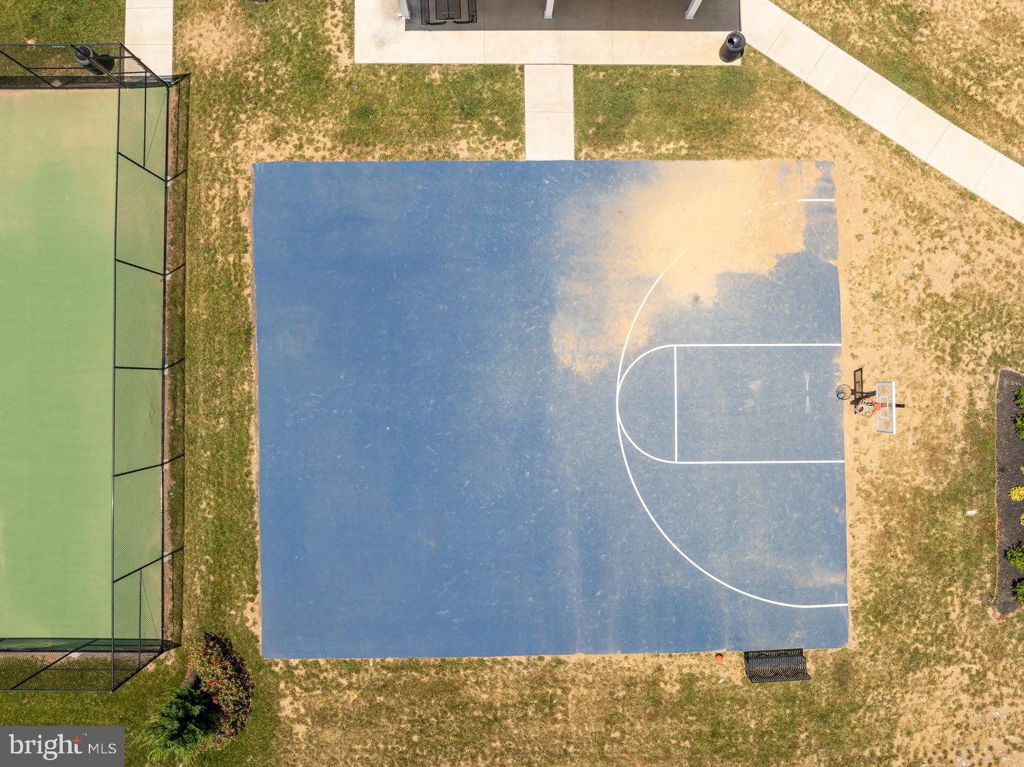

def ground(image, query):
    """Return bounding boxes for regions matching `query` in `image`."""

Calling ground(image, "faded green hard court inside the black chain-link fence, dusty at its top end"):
[0,88,167,648]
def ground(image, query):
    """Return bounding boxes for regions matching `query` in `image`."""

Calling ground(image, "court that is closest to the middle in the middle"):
[254,161,848,658]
